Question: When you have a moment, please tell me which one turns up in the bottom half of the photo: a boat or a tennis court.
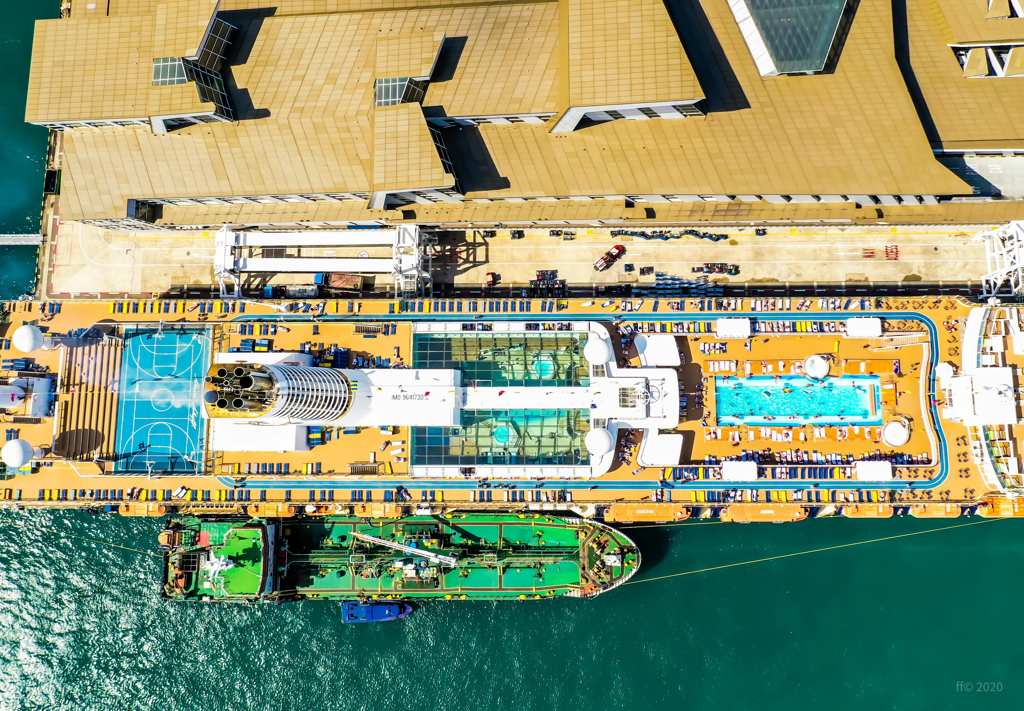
boat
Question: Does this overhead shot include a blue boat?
Yes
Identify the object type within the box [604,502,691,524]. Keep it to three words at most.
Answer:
boat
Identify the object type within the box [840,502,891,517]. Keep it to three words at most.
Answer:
boat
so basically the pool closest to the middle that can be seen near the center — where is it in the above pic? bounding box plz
[490,409,560,422]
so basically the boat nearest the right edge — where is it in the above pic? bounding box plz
[972,496,1024,517]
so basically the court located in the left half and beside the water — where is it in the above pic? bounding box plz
[59,316,222,481]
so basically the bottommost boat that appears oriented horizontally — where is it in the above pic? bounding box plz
[340,600,413,625]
